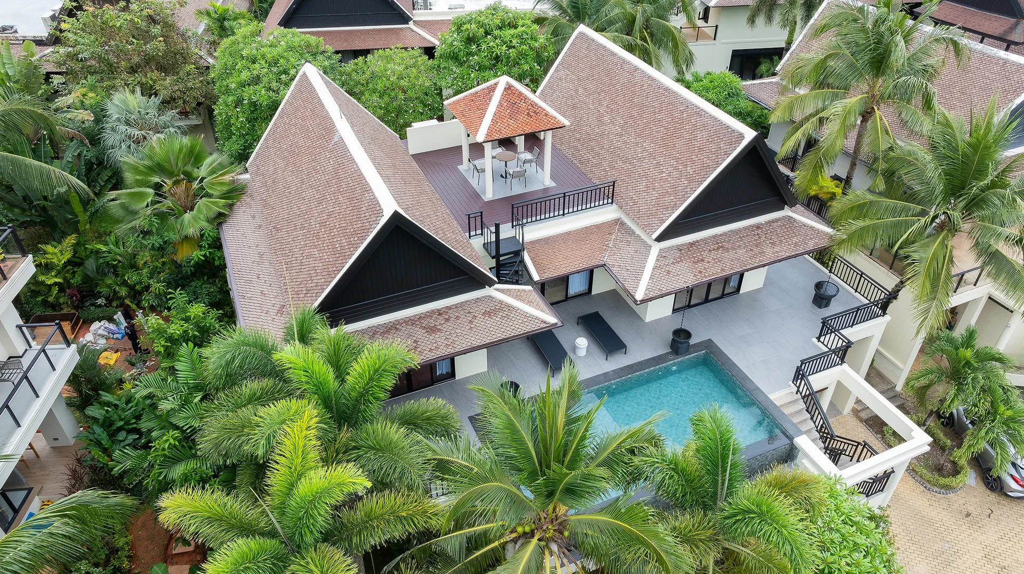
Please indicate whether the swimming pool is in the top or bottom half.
bottom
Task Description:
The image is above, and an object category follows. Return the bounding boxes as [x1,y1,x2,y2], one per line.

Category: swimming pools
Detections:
[468,339,804,574]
